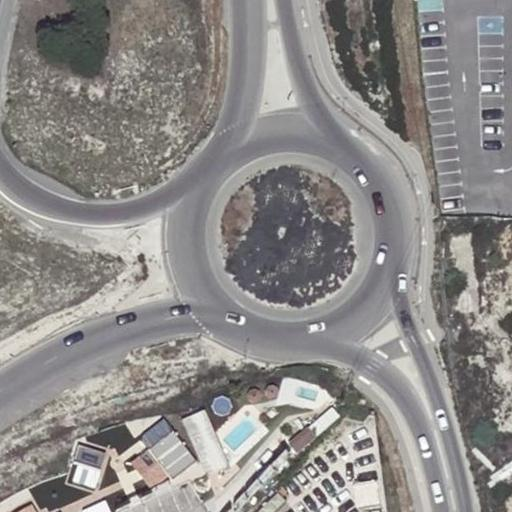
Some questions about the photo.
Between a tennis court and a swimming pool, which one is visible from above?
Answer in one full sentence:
Visible in the photo is a swimming pool.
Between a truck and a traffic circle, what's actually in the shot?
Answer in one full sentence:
Visible in the photo is a traffic circle.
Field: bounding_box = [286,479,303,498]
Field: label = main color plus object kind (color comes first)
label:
gray car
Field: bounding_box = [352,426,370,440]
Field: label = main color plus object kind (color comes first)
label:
white vehicle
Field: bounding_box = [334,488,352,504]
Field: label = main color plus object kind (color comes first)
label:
white car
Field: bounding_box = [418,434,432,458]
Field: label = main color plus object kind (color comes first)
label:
white vehicle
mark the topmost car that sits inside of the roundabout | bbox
[352,166,370,189]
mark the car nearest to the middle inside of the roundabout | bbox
[224,312,246,324]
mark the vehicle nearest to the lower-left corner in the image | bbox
[63,331,85,346]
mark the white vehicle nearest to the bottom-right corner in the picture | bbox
[432,481,444,503]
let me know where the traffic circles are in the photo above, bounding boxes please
[164,111,416,363]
